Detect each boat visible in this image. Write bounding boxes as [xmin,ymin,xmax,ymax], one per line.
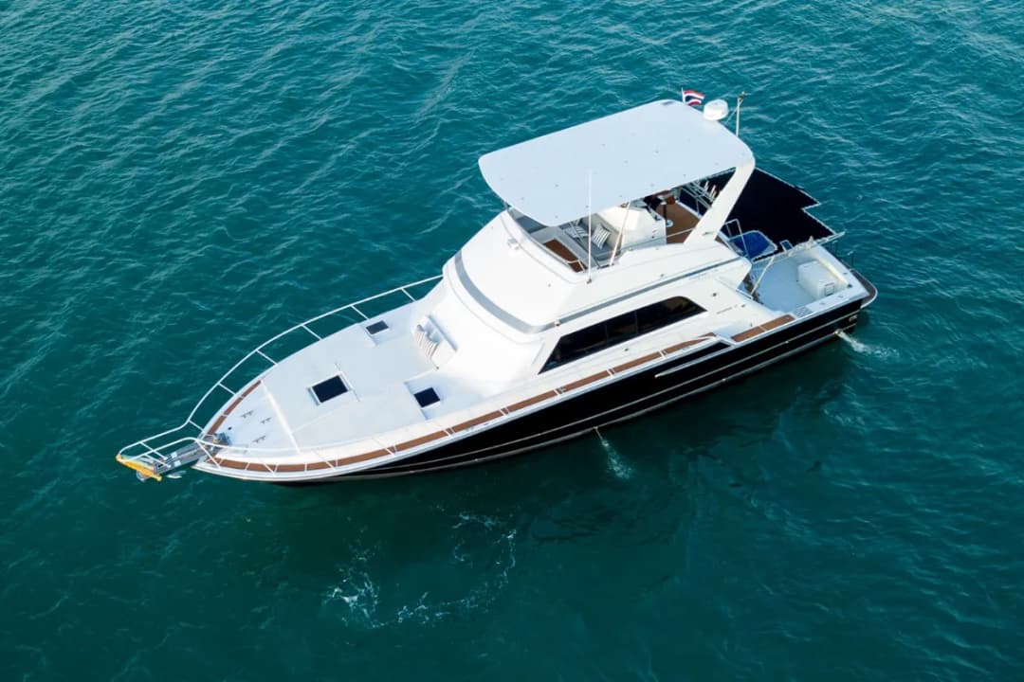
[114,89,872,486]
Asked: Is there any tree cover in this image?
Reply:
No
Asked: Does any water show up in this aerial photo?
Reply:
Yes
